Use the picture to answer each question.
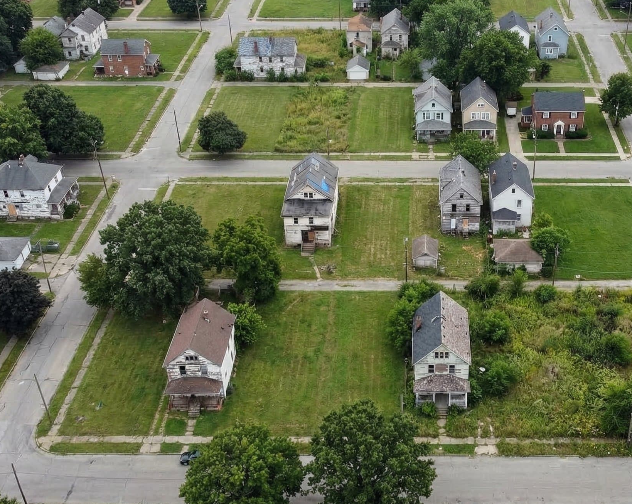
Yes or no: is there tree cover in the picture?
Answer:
Yes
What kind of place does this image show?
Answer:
residential area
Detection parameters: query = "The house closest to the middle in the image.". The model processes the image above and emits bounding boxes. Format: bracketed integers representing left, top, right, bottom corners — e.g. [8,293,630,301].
[284,153,337,253]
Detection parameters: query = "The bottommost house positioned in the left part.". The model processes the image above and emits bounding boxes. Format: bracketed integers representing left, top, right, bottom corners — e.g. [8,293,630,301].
[161,298,234,416]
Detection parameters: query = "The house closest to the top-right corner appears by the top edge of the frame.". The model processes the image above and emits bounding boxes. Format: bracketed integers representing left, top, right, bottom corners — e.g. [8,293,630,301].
[537,3,570,54]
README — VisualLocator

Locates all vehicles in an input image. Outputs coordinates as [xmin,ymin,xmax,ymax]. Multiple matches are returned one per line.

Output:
[177,448,209,465]
[505,95,517,115]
